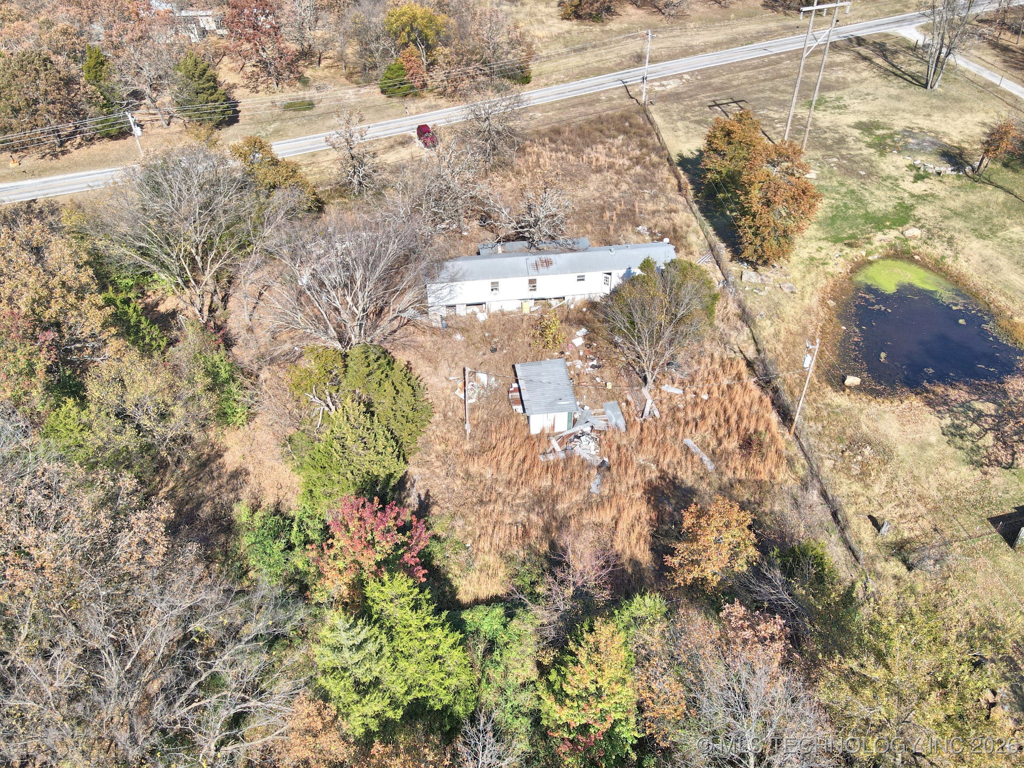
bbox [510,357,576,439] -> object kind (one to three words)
shed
